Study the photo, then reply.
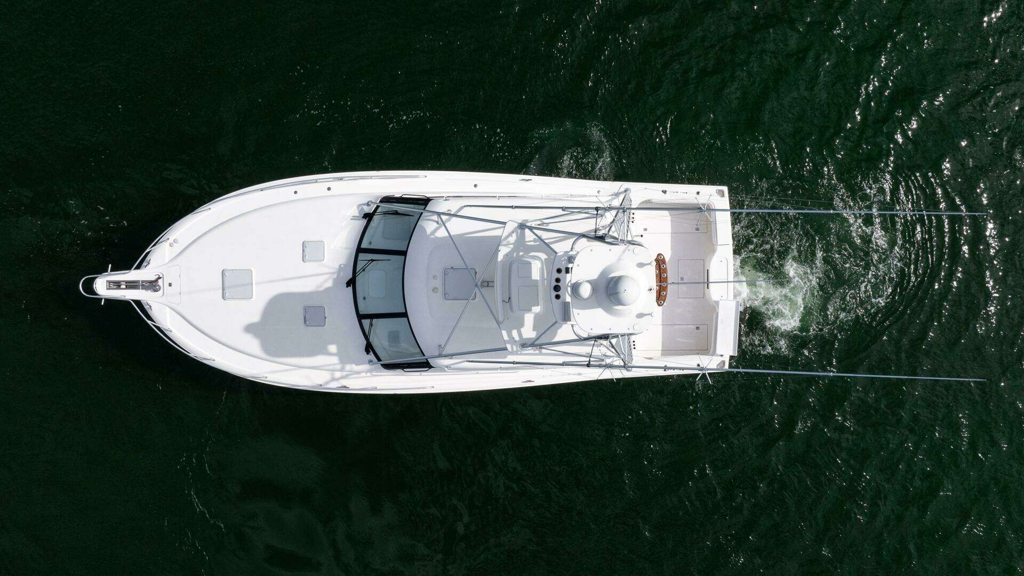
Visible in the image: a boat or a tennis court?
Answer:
boat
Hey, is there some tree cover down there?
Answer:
No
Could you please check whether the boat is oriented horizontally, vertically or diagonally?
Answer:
horizontally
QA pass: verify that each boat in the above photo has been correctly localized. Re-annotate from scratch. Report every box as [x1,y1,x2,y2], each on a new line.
[79,170,986,394]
